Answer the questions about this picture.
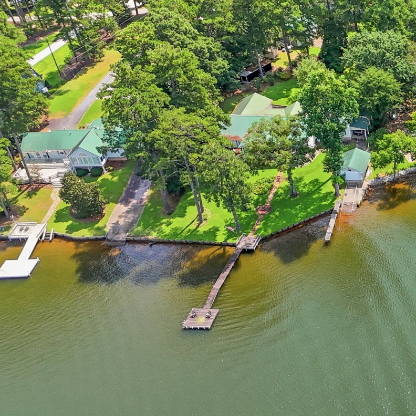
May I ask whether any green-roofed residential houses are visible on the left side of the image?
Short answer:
Yes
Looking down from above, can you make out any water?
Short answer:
Yes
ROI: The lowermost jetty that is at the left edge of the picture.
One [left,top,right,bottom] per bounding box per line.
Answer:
[0,221,44,279]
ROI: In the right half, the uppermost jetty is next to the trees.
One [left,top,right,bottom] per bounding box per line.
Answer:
[320,197,344,244]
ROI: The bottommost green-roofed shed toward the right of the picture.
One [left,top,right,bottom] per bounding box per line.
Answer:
[339,146,372,190]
